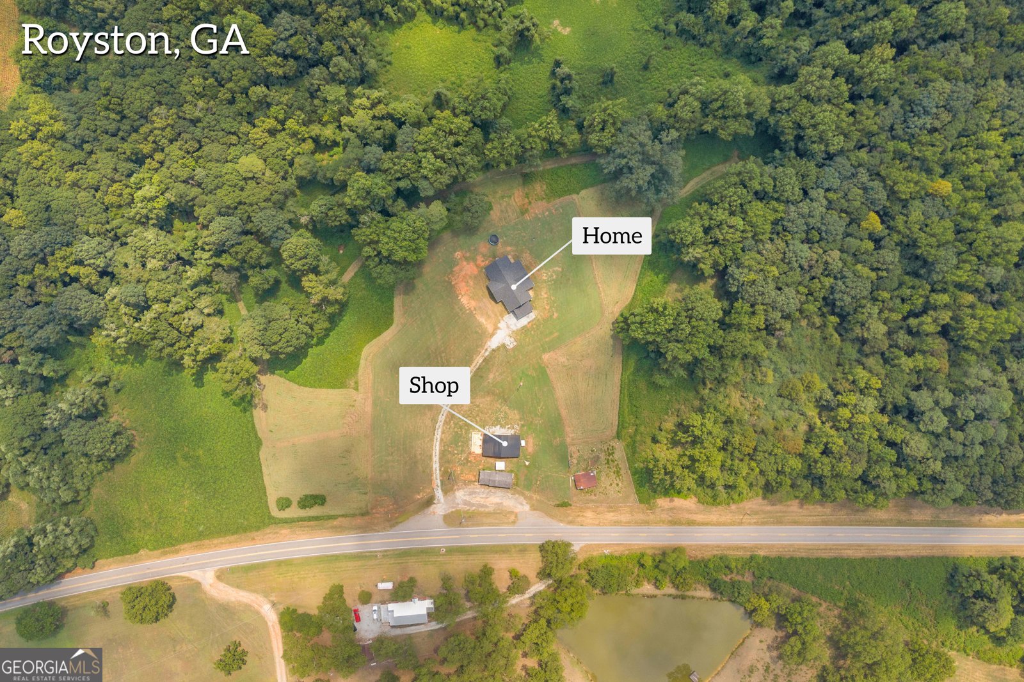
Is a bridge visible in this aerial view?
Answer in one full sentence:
No, no bridge is visible in the view.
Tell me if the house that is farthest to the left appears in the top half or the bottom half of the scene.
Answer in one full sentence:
It is in the bottom half that the house that is farthest to the left appears.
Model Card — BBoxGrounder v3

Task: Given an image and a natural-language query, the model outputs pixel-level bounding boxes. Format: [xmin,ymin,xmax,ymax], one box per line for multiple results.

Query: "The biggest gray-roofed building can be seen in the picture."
[484,255,535,322]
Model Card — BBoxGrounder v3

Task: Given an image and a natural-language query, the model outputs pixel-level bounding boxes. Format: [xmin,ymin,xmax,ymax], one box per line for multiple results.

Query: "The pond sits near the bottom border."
[557,593,752,682]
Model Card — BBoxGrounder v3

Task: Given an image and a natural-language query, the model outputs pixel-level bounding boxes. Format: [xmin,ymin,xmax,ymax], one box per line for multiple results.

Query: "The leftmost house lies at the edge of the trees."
[381,596,434,626]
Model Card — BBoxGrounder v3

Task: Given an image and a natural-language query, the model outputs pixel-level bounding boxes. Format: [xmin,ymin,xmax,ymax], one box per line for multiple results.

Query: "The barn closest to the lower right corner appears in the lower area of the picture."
[574,471,597,489]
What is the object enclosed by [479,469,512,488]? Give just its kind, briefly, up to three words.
shed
